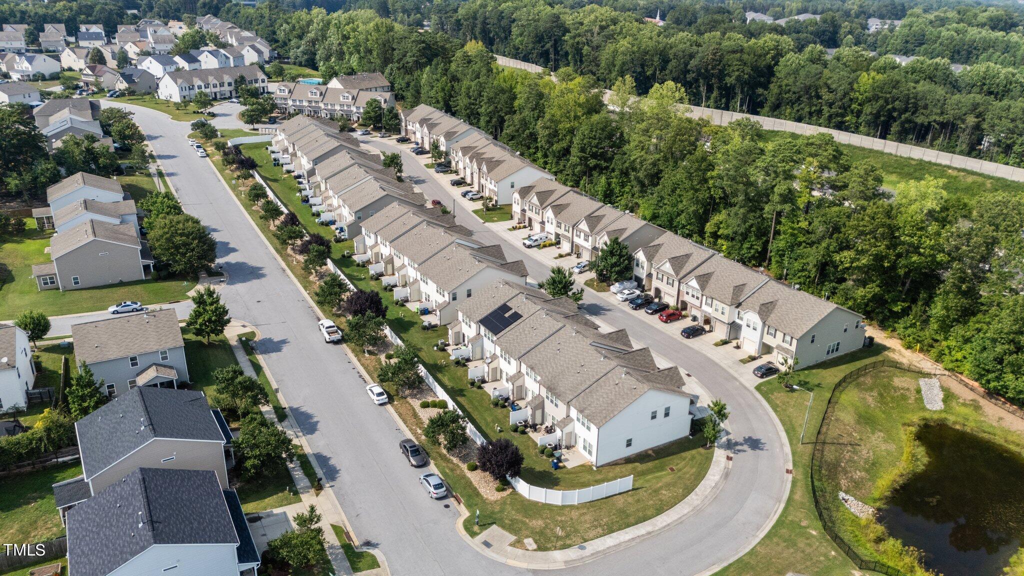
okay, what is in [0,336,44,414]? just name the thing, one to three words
house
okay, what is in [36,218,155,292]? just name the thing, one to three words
house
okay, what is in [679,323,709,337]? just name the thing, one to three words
car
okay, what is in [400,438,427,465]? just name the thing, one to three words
car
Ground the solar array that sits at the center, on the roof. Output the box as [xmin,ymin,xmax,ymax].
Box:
[479,299,523,333]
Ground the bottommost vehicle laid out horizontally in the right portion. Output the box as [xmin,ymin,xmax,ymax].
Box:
[750,360,782,375]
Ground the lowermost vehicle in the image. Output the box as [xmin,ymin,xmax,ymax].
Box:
[419,470,448,499]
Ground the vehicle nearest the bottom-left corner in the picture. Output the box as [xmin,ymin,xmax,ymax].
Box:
[108,300,140,312]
